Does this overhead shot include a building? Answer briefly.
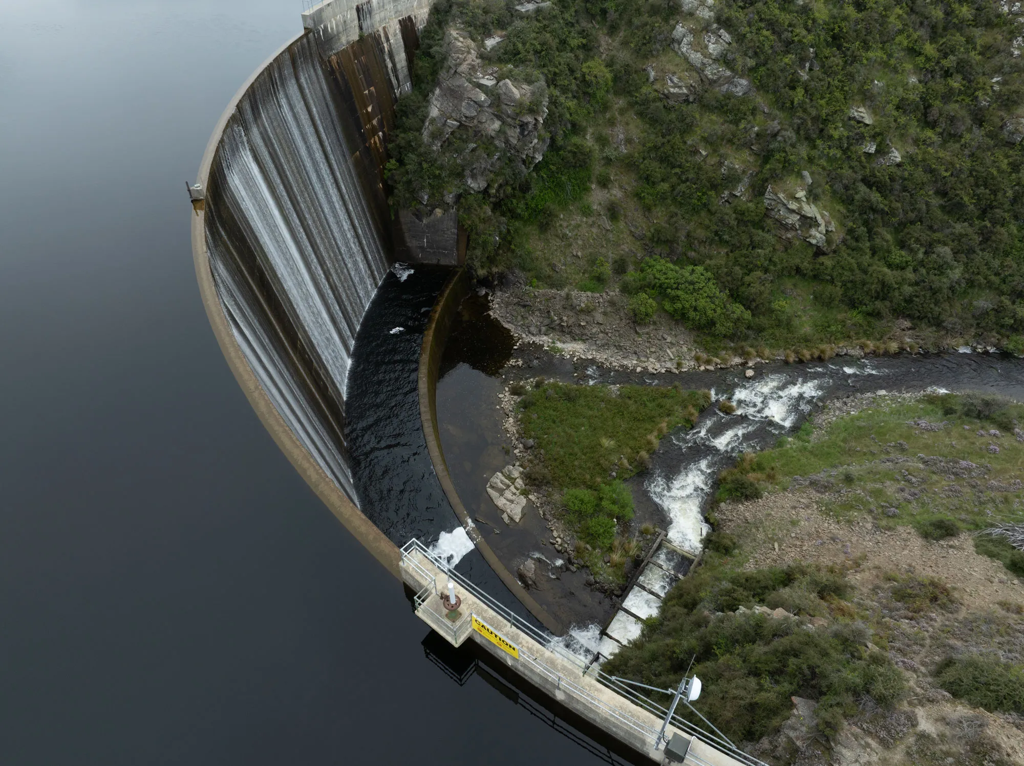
No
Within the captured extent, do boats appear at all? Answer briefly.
No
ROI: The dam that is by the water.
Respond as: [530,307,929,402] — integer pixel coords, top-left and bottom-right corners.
[192,0,758,766]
